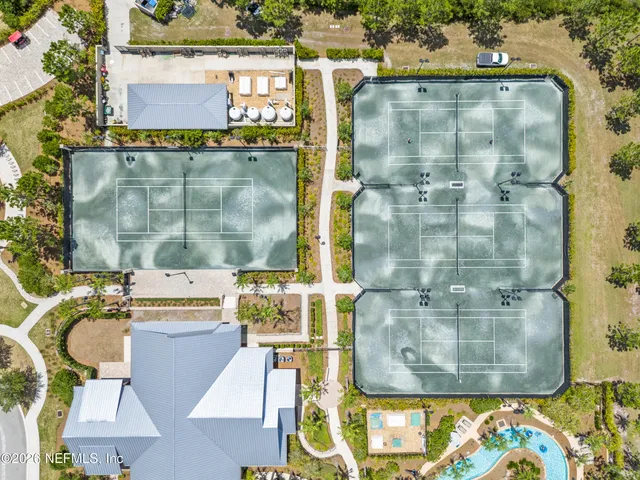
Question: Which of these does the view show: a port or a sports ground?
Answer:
sports ground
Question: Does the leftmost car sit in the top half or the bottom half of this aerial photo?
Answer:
top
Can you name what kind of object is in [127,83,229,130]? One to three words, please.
shed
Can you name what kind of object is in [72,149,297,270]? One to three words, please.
tennis court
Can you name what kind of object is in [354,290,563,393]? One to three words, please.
tennis court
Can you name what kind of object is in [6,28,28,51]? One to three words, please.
car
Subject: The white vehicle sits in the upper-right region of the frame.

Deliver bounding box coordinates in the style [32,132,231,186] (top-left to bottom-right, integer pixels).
[476,51,511,65]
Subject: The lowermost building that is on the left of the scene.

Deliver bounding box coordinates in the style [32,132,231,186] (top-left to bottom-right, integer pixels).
[62,321,296,480]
